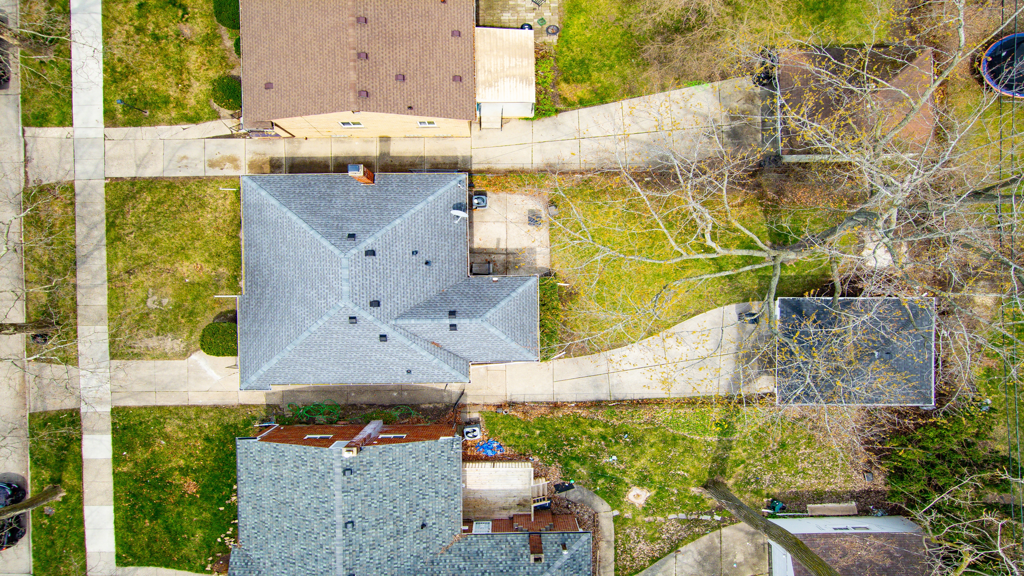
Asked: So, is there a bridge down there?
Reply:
No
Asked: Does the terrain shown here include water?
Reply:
No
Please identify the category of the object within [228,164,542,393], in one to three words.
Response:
house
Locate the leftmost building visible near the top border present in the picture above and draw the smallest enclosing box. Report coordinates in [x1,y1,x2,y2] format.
[230,0,480,140]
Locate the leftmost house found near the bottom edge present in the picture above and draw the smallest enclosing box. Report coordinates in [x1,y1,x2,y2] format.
[230,419,595,576]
